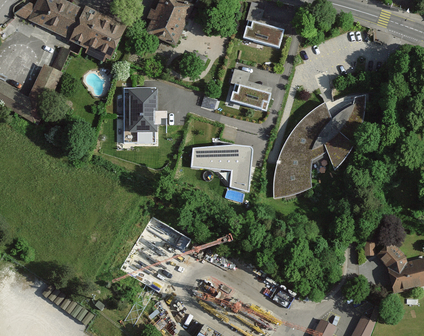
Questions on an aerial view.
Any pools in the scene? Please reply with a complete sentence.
Yes, you can see a pool in this photo.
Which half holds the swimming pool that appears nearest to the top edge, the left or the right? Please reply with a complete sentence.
You can find the swimming pool that appears nearest to the top edge on the left side of the picture.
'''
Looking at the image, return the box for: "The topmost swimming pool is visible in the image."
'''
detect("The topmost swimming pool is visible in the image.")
[82,70,110,99]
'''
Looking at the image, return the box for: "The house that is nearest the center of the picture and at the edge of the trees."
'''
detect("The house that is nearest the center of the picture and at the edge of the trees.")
[190,144,252,192]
